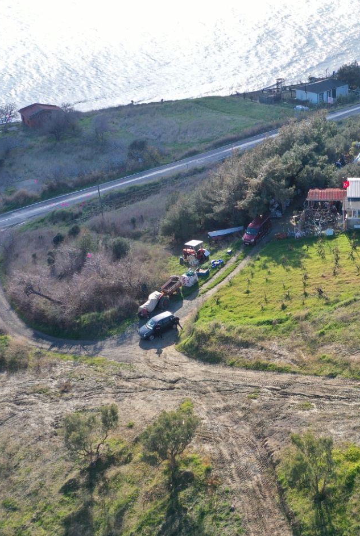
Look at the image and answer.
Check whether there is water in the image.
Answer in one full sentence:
Yes, some water is visible.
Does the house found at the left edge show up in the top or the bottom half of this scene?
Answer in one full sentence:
The top half of the photo is where the house found at the left edge is.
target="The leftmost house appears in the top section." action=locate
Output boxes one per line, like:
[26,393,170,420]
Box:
[17,102,63,127]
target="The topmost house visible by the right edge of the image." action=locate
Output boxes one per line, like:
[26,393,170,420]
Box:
[294,77,351,103]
